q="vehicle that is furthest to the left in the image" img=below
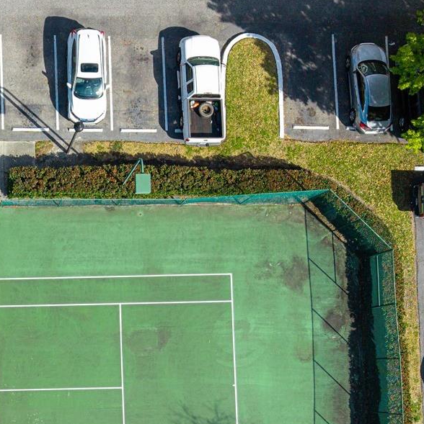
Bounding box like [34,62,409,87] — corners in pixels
[63,23,112,127]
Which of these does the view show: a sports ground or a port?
sports ground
